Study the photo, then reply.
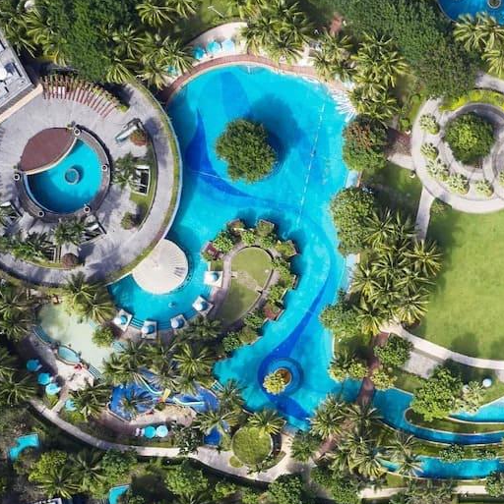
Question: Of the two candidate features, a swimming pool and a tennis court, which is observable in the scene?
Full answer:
Visible in the photo is a swimming pool.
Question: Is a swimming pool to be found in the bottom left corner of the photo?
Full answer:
Yes, a swimming pool is visible in the bottom left corner of the photo.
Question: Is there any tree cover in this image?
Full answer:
Yes, some tree cover is visible.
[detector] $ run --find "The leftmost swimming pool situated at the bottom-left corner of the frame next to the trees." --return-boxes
[7,431,43,462]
